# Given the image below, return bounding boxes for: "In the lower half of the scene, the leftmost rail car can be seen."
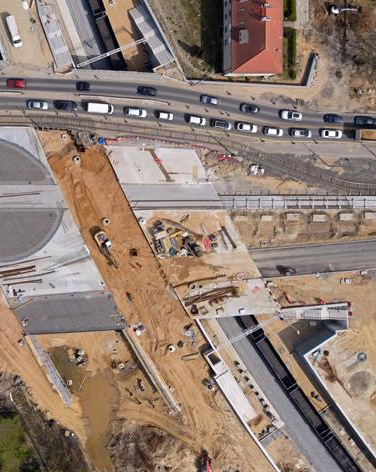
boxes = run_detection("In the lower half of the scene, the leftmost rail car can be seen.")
[234,316,260,338]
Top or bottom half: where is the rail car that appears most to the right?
bottom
